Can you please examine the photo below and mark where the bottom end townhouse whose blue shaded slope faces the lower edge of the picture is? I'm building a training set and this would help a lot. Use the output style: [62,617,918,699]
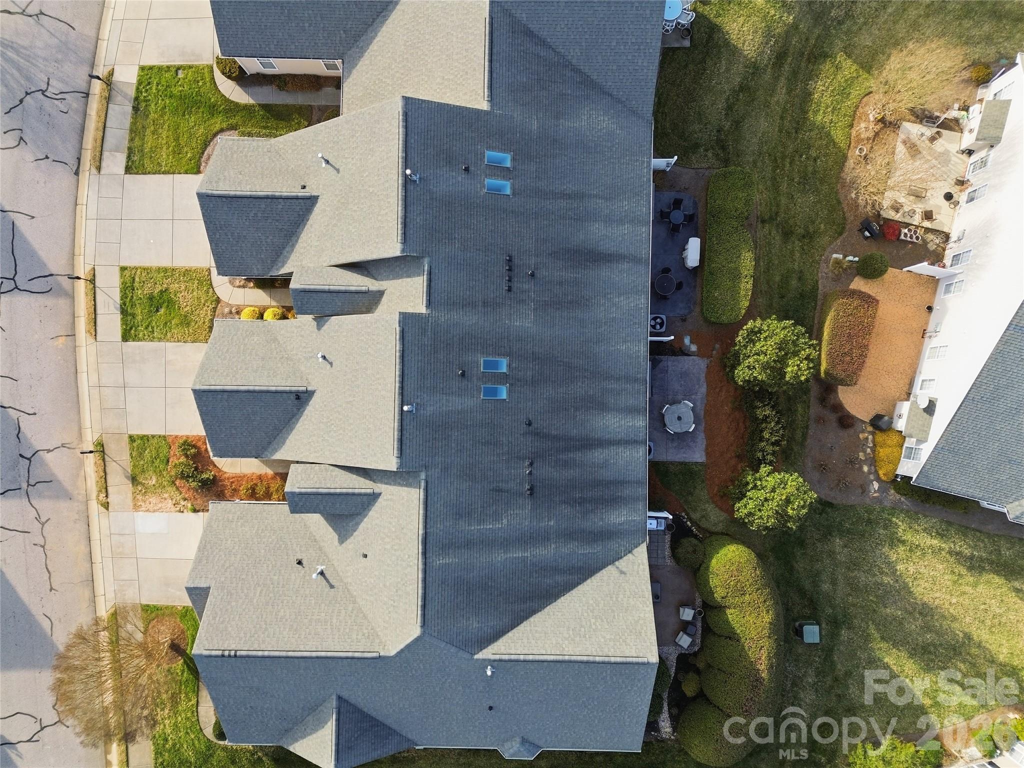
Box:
[186,461,660,768]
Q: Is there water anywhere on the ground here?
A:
No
